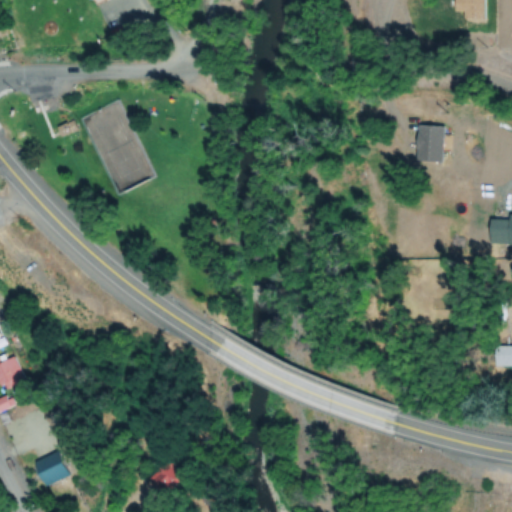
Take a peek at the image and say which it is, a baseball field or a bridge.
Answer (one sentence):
The one in the frame is a bridge.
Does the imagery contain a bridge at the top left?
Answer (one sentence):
No, there's no bridge to be seen at the top left.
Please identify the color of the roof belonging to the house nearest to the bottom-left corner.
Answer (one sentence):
The color of the roof on the house nearest to the bottom-left corner is blue.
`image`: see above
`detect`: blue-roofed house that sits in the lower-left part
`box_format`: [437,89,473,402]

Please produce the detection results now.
[36,451,70,485]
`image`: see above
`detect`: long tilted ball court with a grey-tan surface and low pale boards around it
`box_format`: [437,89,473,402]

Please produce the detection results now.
[82,100,157,193]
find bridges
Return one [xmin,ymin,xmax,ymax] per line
[214,332,401,436]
